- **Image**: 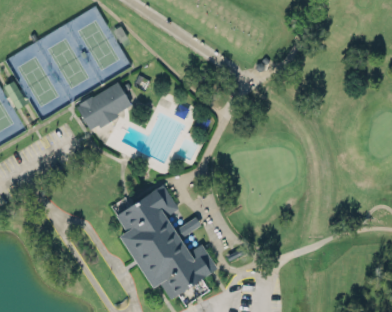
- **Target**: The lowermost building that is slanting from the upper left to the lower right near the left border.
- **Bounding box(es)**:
[4,81,28,110]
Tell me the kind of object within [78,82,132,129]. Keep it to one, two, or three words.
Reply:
building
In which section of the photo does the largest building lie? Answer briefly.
bottom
